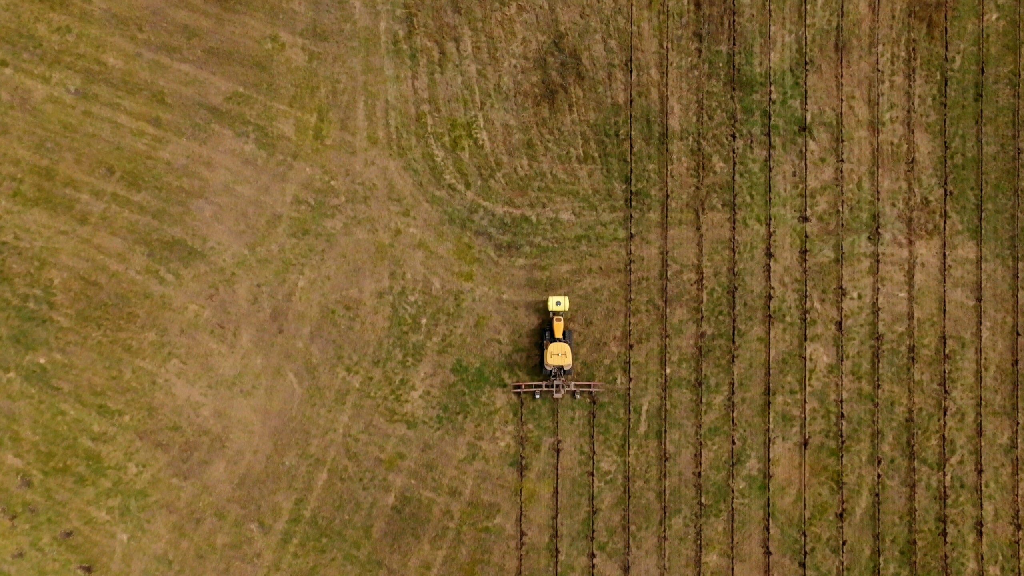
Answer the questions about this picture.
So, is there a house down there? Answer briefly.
No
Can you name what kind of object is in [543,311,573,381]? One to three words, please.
work vehicle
